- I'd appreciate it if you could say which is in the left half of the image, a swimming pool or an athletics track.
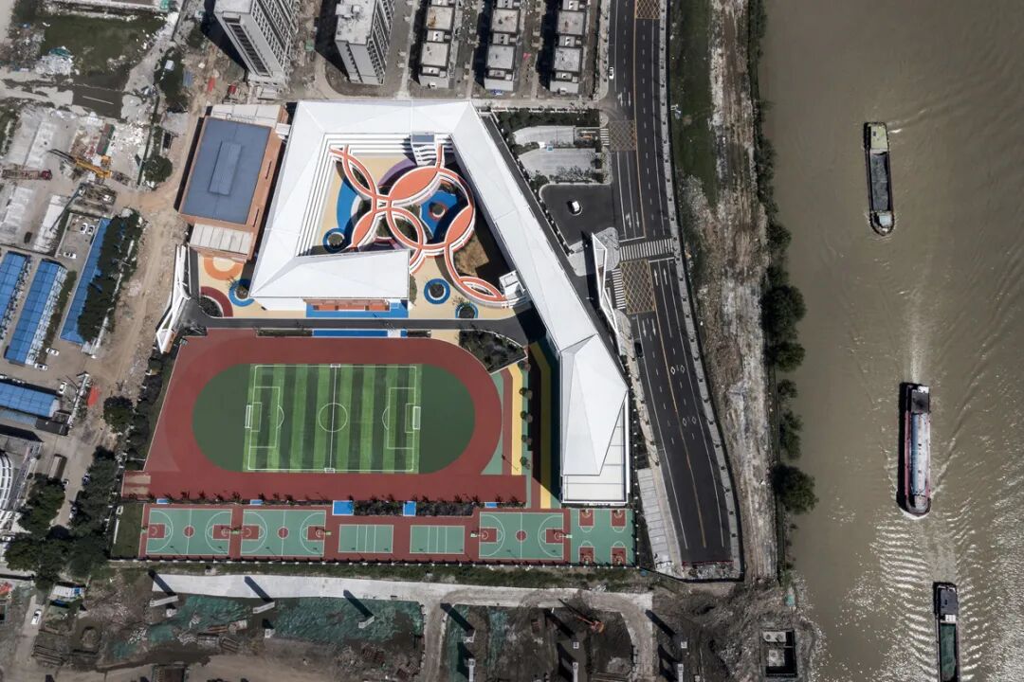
athletics track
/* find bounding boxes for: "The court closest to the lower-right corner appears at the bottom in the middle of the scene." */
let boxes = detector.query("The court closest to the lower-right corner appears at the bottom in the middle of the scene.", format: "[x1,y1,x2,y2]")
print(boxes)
[571,509,634,565]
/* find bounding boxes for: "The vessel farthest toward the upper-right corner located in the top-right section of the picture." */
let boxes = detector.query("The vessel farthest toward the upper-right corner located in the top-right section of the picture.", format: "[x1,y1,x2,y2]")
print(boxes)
[862,117,895,236]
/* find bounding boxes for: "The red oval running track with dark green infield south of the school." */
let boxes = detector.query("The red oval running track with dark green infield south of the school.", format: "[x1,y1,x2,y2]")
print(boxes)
[124,329,526,503]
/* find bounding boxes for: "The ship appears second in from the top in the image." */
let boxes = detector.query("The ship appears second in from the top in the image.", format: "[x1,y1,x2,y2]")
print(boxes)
[902,383,933,517]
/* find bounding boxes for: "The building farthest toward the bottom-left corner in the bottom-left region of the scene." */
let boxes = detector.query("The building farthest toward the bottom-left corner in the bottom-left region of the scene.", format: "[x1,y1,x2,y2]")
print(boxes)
[51,584,90,599]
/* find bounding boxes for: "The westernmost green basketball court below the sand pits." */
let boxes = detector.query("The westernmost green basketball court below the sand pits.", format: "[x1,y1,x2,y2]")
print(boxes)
[146,509,231,556]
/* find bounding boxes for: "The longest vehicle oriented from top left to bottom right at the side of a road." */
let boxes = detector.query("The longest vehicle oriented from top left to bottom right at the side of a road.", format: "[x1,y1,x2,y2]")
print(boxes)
[553,593,607,636]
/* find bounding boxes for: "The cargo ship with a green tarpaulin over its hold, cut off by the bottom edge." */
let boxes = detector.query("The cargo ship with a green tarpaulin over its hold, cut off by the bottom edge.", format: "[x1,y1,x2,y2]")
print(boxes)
[931,583,962,682]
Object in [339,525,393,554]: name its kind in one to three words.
sports court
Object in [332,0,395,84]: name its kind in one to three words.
building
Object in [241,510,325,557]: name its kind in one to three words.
basketball court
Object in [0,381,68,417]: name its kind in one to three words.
shed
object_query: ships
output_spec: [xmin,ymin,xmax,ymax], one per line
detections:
[931,583,962,682]
[862,117,895,236]
[902,383,933,517]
